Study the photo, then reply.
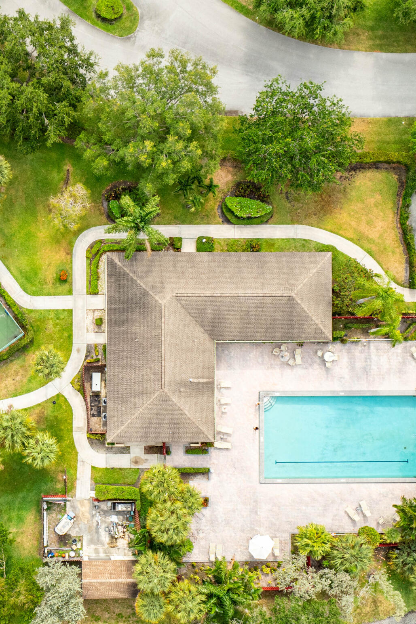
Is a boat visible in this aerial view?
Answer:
No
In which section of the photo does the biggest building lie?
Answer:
center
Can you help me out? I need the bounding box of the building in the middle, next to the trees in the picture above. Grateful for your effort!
[105,251,333,443]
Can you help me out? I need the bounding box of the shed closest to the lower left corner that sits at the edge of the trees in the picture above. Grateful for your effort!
[82,558,140,599]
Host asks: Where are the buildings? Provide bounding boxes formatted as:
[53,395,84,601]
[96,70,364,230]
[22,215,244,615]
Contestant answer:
[105,251,333,443]
[82,558,140,599]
